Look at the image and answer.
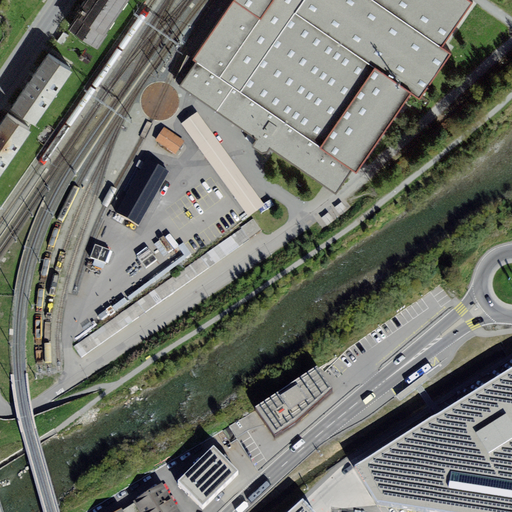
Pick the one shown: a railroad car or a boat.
railroad car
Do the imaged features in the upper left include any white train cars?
Yes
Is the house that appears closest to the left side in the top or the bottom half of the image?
top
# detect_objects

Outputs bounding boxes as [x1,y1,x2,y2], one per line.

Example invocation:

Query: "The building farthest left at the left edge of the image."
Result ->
[0,114,30,181]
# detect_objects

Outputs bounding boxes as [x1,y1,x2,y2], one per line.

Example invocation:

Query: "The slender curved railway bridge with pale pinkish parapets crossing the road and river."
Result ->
[11,370,60,512]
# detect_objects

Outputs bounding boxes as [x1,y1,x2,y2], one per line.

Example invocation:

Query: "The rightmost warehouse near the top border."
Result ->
[180,0,472,196]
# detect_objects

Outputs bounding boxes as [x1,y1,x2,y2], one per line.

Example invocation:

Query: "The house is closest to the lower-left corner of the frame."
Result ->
[117,480,182,512]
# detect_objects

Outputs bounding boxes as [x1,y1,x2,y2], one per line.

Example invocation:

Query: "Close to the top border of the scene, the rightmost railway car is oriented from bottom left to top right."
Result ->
[118,4,152,48]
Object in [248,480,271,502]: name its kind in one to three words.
truck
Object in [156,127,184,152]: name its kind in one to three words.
shed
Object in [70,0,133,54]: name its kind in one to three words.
house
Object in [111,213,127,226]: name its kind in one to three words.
vehicle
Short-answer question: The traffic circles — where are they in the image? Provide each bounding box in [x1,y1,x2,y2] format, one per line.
[472,242,512,326]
